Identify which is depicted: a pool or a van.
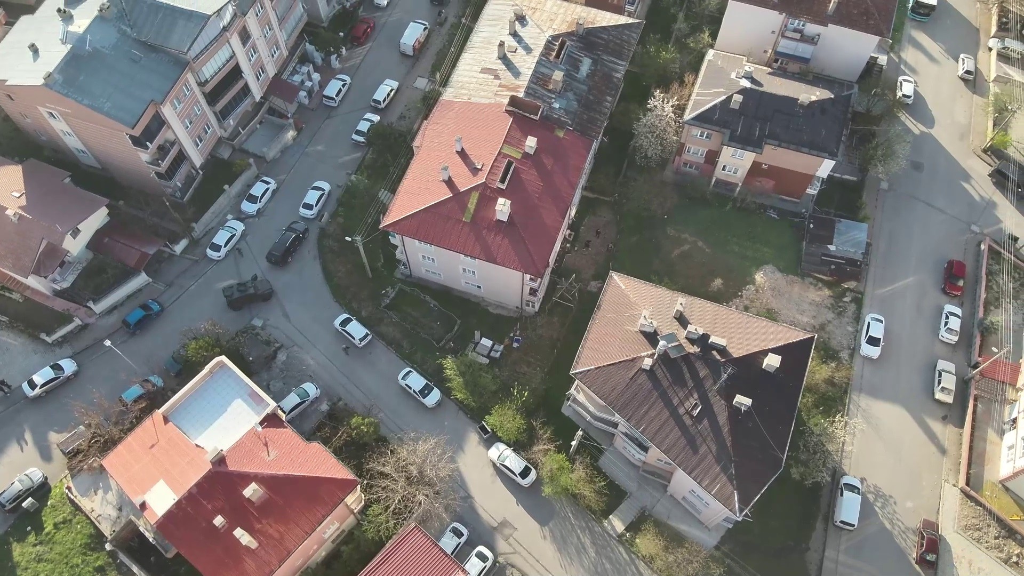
van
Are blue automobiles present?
Yes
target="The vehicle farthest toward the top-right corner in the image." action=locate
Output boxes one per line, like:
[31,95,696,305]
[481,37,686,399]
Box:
[994,40,1024,62]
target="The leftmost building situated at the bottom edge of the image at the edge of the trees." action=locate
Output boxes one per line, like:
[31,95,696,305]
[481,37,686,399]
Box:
[102,356,370,576]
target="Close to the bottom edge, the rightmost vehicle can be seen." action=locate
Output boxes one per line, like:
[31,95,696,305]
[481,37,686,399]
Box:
[910,513,944,574]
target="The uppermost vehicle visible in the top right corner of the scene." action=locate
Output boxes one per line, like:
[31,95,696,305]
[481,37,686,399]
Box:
[903,0,937,21]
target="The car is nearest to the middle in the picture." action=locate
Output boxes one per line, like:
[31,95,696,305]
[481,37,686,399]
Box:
[395,367,442,411]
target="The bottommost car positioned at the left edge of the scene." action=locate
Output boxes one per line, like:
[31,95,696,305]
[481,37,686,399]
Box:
[0,466,53,513]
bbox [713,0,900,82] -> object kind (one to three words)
house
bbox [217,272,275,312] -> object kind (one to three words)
vehicle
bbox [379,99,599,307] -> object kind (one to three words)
house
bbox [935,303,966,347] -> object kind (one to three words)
car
